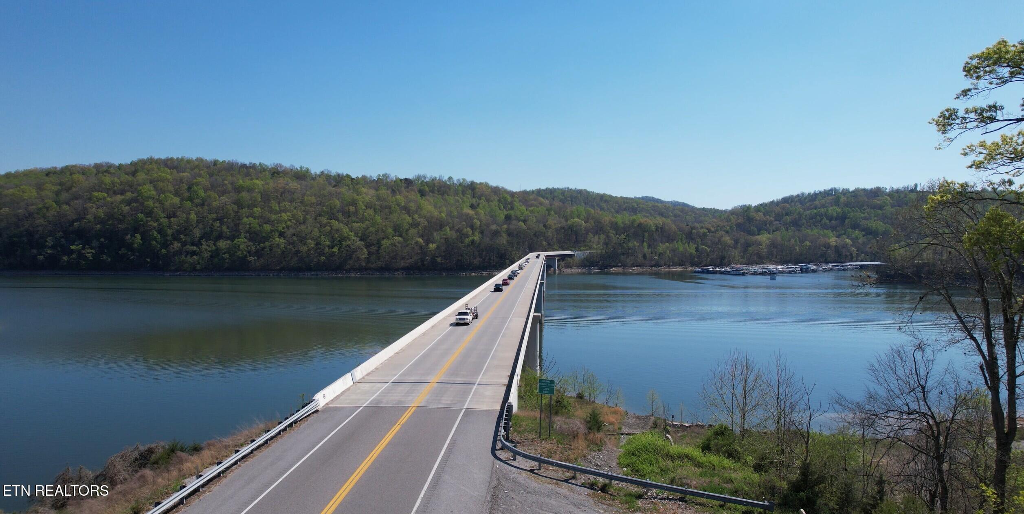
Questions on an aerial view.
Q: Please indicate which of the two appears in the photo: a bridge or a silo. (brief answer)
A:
bridge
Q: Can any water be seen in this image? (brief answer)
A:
Yes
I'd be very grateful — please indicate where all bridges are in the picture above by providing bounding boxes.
[316,252,590,408]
